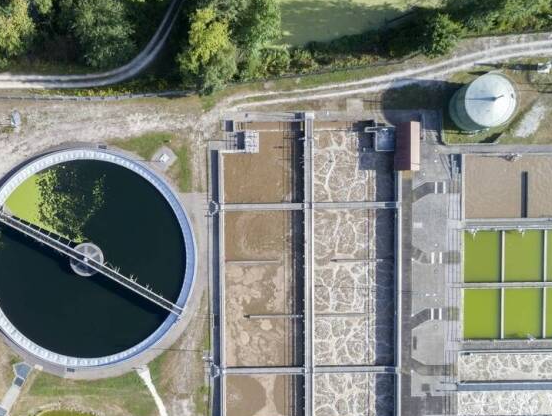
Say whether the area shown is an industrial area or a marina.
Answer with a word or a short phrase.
industrial area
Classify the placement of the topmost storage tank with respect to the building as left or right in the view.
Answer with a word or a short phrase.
on its right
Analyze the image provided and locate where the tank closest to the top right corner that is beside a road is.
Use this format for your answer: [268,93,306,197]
[450,72,520,137]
